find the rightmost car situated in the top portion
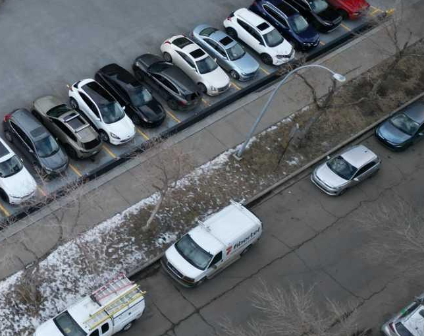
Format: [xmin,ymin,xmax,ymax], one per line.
[374,100,424,153]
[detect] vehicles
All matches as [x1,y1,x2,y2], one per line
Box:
[36,270,151,336]
[249,0,320,50]
[192,22,262,80]
[0,137,34,203]
[0,108,70,180]
[160,34,232,94]
[374,100,424,153]
[162,201,269,290]
[289,0,341,33]
[100,63,171,128]
[326,0,369,20]
[68,80,138,145]
[221,5,293,66]
[310,144,381,200]
[130,52,206,111]
[34,96,107,162]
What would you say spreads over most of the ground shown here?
paved ground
